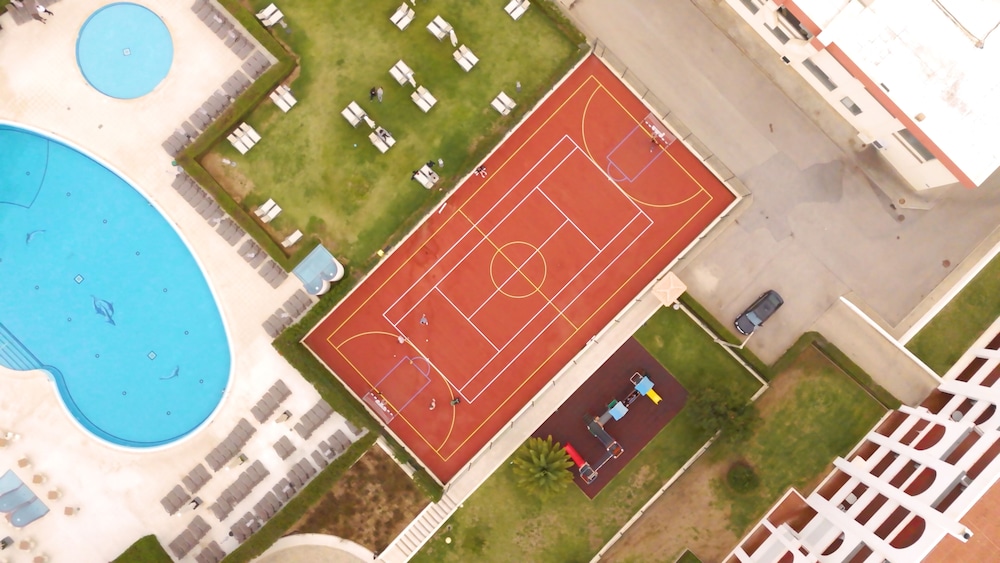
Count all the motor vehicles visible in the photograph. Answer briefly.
one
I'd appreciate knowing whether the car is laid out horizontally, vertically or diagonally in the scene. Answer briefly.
diagonally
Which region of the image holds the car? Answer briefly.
right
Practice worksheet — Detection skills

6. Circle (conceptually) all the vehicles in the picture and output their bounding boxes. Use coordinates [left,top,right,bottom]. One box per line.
[734,288,784,335]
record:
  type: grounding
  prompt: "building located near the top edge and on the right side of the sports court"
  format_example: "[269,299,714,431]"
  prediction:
[728,0,1000,191]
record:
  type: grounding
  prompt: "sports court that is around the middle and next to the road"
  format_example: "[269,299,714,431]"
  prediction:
[303,54,736,484]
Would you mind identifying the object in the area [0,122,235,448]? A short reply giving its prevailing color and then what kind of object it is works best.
blue swimming pool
